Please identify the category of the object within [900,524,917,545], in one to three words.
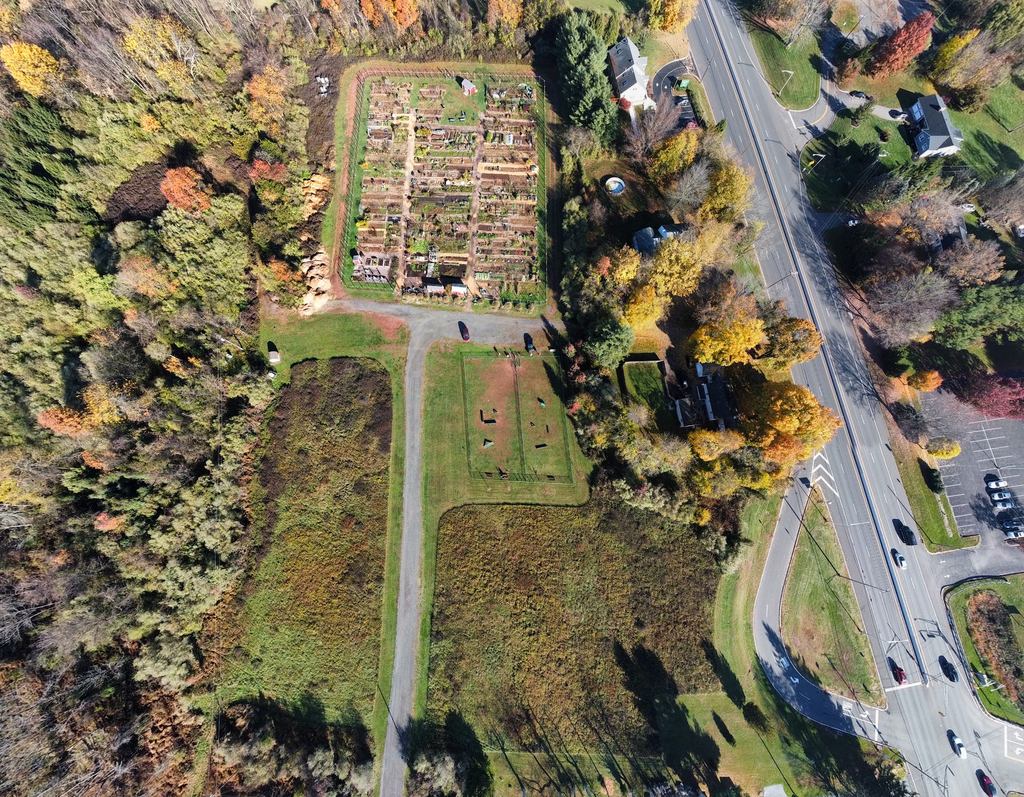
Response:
vehicle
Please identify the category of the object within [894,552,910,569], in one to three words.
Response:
car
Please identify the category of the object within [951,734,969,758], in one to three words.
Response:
car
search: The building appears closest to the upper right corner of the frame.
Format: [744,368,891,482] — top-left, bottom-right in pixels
[905,90,965,161]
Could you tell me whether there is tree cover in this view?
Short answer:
Yes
